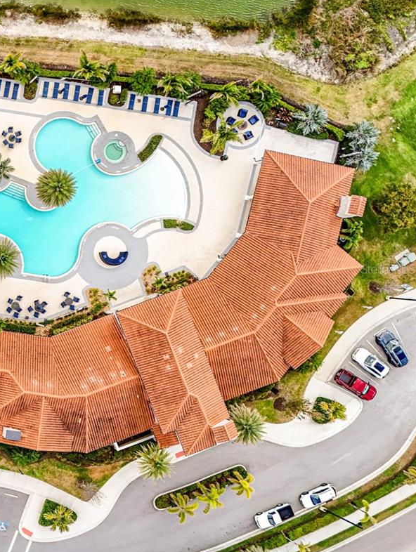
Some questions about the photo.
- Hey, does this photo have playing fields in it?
No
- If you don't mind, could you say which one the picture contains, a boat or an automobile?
automobile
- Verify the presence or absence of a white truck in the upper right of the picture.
No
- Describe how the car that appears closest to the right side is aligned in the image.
on a diagonal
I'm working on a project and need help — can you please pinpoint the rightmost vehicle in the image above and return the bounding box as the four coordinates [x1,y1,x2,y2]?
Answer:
[372,327,407,368]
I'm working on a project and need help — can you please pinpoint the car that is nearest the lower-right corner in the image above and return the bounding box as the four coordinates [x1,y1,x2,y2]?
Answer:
[296,481,336,506]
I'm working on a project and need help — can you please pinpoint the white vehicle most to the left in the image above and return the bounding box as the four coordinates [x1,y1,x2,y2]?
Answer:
[251,497,299,528]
